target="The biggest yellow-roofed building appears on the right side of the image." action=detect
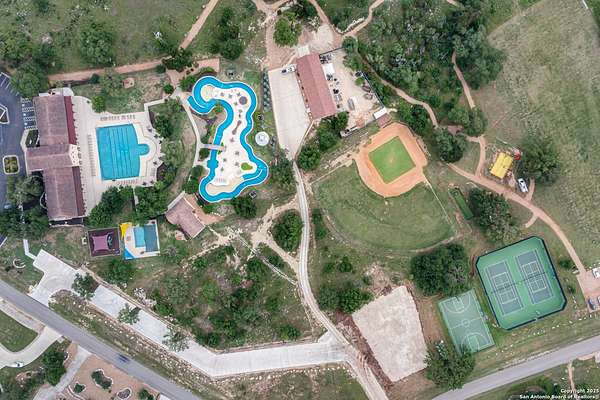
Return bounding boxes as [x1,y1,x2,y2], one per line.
[488,152,513,179]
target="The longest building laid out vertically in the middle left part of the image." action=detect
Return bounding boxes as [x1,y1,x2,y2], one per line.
[22,95,90,228]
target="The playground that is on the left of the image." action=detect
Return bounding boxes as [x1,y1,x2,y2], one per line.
[87,227,121,257]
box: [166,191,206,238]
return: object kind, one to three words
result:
building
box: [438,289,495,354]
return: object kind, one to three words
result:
basketball court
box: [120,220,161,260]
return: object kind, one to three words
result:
swimming pool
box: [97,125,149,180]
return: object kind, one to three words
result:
swimming pool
